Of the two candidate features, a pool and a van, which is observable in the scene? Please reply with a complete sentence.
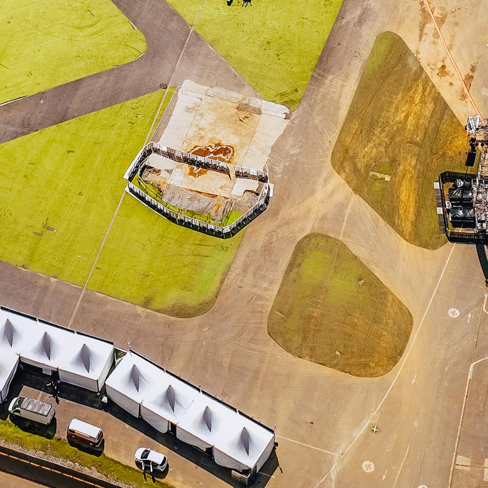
Looking from above, you can make out a van.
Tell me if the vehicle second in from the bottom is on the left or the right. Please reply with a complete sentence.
The vehicle second in from the bottom sits on the left side.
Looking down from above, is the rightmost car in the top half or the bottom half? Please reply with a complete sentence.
The rightmost car sits in the bottom half of the picture.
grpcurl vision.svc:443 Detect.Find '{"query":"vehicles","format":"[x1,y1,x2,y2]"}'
[132,450,172,478]
[65,418,107,449]
[11,398,60,427]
